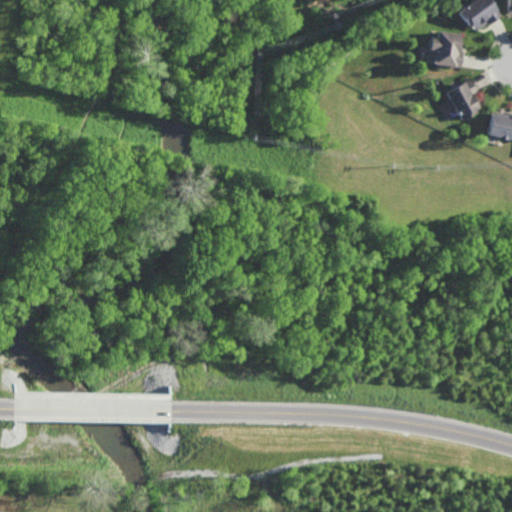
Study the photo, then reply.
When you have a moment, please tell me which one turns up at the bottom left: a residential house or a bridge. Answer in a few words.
bridge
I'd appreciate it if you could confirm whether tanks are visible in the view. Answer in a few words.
No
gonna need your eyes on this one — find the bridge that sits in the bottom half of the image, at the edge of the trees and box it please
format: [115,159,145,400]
[13,386,172,430]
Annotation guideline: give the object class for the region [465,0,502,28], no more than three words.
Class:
house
